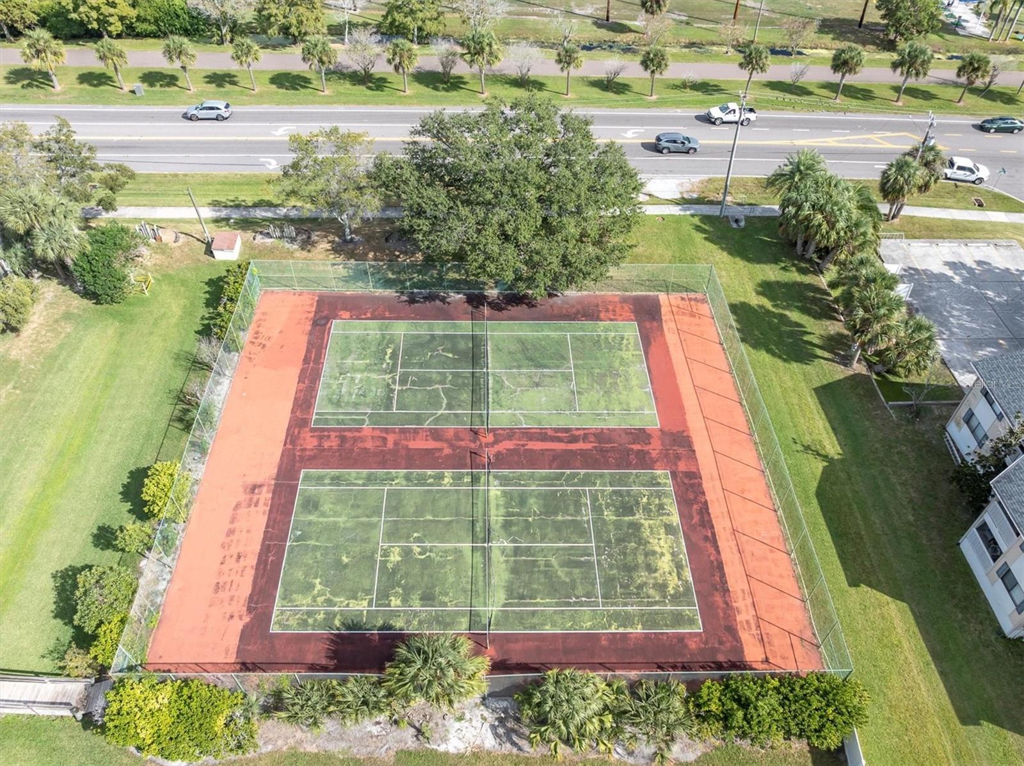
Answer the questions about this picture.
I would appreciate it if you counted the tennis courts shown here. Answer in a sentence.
In total, 2 tennis courts can be seen.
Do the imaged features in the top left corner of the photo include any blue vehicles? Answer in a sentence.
No, there is no blue vehicle in the top left corner of the photo.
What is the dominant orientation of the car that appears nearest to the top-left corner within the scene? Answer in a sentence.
The car that appears nearest to the top-left corner is laid out from left to right.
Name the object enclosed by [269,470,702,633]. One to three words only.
tennis court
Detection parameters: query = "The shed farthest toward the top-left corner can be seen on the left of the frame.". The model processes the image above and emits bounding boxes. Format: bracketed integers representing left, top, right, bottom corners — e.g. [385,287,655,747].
[211,230,241,259]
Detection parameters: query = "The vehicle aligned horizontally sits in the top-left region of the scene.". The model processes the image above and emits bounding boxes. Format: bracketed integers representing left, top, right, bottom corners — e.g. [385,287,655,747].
[183,97,233,120]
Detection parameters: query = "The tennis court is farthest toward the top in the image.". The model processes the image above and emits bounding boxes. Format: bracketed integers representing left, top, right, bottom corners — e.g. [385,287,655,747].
[311,319,659,428]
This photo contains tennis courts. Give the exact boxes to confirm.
[311,319,659,428]
[269,470,702,633]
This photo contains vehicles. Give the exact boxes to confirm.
[655,131,703,154]
[704,102,758,126]
[183,97,233,120]
[929,153,988,183]
[979,115,1024,134]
